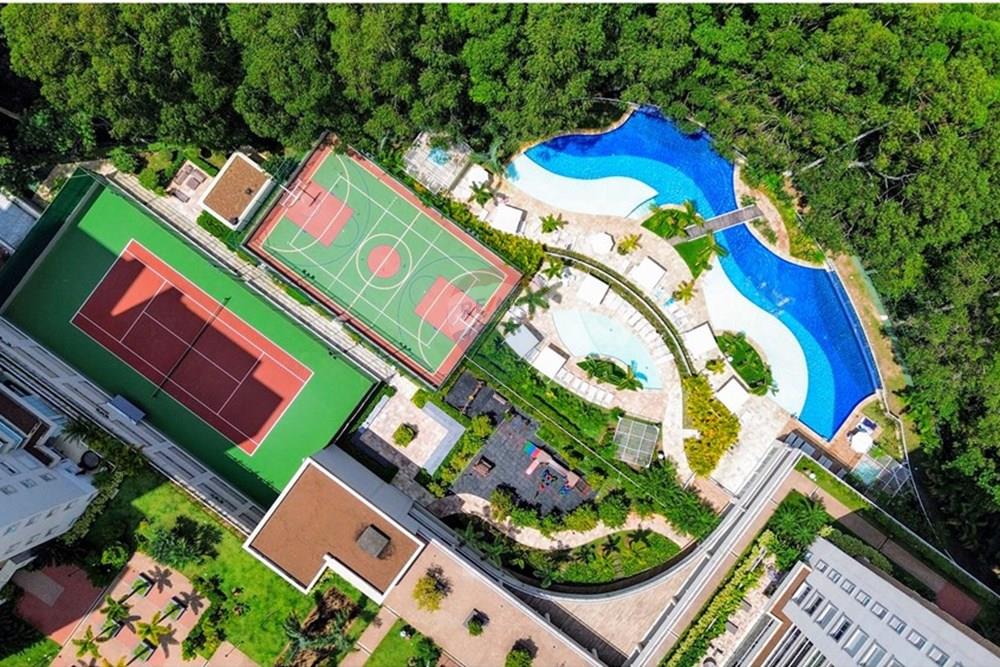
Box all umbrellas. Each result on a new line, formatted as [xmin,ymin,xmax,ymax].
[850,432,870,450]
[591,232,610,253]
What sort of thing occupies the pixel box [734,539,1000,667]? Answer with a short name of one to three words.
building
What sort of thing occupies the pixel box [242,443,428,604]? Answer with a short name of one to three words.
building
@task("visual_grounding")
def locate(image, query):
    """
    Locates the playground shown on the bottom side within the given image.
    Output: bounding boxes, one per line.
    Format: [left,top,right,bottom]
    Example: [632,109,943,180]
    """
[446,370,598,516]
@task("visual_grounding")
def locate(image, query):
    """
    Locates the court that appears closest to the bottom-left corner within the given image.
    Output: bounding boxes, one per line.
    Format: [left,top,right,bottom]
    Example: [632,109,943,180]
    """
[0,184,378,511]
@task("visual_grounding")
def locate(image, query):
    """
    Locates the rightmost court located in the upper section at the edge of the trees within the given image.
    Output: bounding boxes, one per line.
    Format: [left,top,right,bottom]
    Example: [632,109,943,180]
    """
[254,135,520,383]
